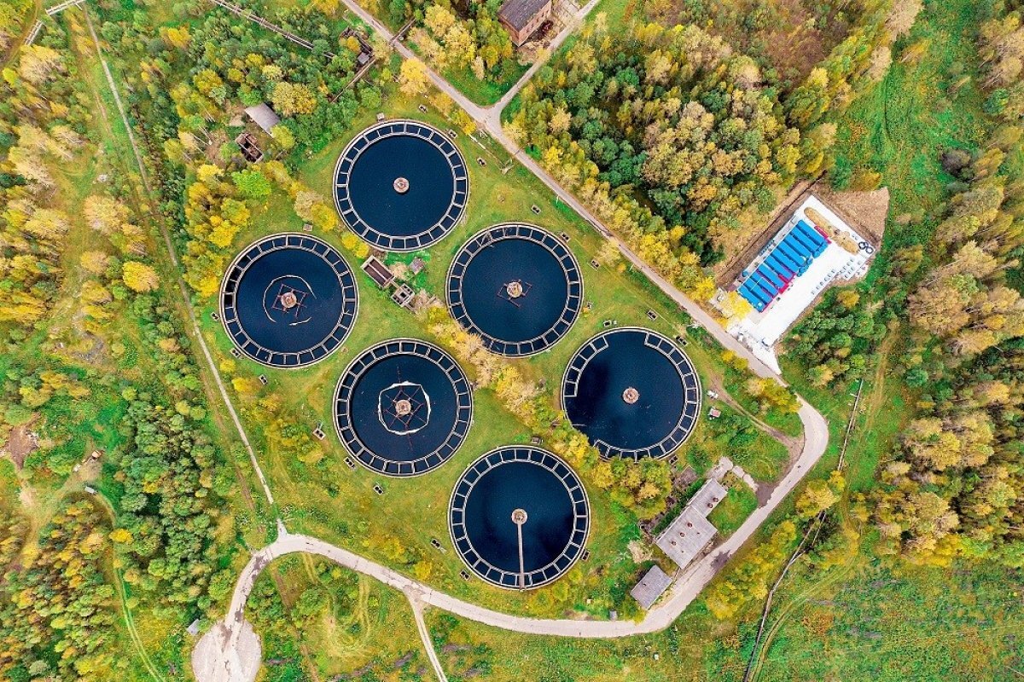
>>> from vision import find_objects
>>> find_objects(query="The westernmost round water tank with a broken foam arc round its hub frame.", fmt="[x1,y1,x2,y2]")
[219,232,359,370]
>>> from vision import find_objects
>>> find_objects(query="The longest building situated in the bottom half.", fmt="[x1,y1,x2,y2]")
[654,478,728,569]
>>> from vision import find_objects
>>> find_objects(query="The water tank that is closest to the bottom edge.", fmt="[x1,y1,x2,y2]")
[448,445,591,592]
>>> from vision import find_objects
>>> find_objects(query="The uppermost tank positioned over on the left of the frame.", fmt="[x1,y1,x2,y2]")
[333,118,470,253]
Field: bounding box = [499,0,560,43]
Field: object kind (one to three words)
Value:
house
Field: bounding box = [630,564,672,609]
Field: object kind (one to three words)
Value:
shed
